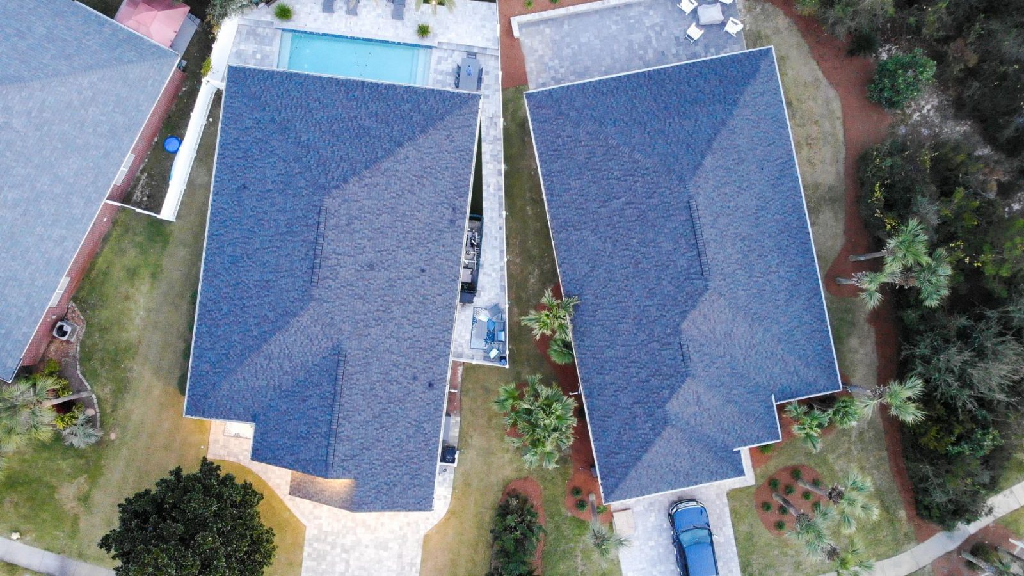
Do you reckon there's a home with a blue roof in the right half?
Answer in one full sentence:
Yes, a home with a blue roof appears in the right half.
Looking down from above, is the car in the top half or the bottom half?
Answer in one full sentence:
It is in the bottom half that the car appears.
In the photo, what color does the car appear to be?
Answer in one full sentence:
The car looks blue in the image.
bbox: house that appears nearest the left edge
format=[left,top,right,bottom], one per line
[0,0,188,386]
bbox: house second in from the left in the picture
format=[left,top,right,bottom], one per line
[183,62,483,514]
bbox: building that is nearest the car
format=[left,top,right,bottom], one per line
[521,42,843,507]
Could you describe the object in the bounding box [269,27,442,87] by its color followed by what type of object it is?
blue swimming pool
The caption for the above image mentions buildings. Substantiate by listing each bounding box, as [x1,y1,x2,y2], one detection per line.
[521,42,843,507]
[183,62,483,514]
[0,0,188,386]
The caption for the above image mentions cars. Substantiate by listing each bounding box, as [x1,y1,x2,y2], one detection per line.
[667,499,720,576]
